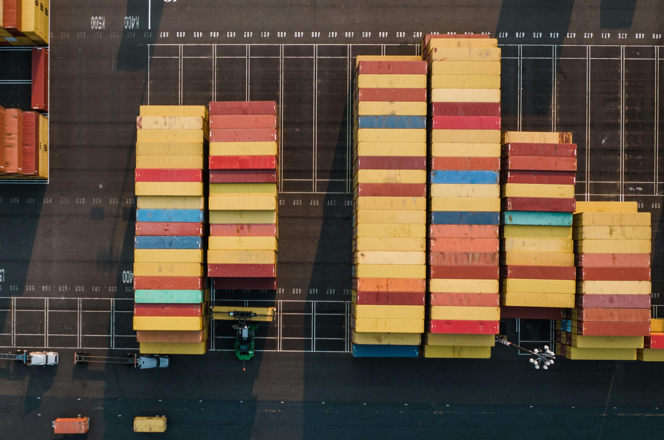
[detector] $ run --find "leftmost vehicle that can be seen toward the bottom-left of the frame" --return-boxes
[18,350,62,367]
